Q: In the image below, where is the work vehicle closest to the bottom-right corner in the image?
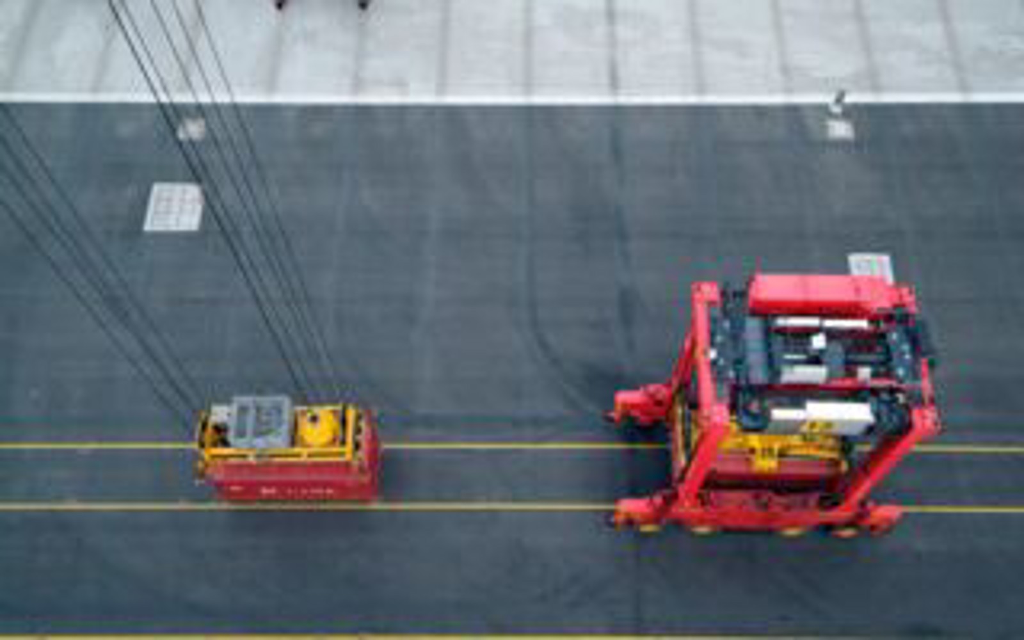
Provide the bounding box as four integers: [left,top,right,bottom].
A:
[598,267,952,536]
